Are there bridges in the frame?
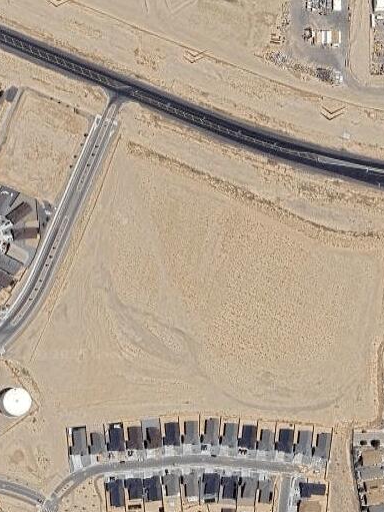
No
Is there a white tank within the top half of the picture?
No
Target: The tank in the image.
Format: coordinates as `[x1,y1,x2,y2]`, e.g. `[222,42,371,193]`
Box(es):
[1,387,31,416]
